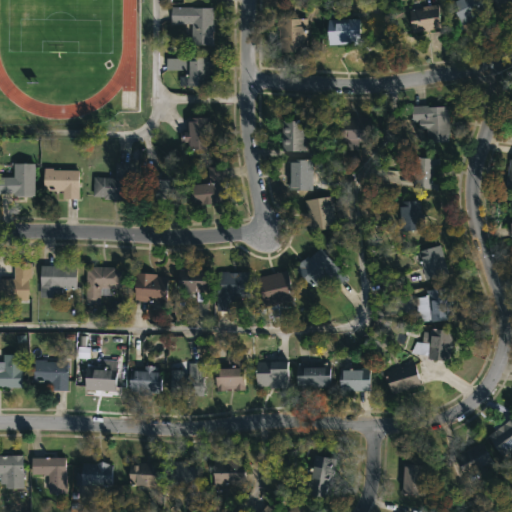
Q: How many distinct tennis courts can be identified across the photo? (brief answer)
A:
zero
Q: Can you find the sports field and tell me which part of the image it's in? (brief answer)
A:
top left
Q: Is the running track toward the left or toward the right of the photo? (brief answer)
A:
left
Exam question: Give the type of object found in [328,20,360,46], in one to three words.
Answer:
house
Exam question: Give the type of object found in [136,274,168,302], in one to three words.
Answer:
house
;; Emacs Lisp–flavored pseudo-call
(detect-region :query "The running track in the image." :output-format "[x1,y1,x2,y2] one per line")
[0,0,137,120]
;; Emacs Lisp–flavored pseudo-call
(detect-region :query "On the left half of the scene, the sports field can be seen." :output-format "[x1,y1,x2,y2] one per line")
[0,0,122,105]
